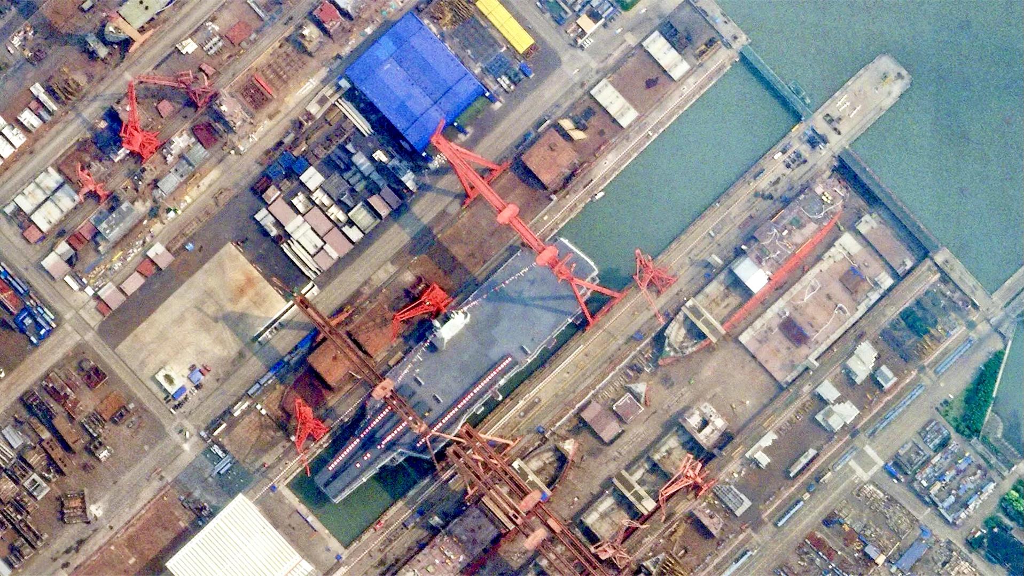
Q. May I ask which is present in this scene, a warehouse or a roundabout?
warehouse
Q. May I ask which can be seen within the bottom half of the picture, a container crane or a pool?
container crane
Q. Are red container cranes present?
Yes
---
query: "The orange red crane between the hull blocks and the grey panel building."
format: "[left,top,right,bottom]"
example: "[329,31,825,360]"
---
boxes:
[658,455,716,529]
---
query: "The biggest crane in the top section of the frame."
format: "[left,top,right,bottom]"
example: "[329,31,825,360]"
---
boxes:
[430,120,630,333]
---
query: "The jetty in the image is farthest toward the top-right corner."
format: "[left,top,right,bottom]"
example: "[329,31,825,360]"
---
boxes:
[801,54,911,157]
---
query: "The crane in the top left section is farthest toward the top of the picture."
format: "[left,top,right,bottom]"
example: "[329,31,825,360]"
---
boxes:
[105,11,161,53]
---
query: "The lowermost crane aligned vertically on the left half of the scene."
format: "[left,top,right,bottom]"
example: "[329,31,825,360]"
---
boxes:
[296,399,330,484]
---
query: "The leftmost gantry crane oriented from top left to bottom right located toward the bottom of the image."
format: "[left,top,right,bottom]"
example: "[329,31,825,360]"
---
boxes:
[274,279,484,480]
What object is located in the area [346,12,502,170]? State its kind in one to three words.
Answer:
warehouse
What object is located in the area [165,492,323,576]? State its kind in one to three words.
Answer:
building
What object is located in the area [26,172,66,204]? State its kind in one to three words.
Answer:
shed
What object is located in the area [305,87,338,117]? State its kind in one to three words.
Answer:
shed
